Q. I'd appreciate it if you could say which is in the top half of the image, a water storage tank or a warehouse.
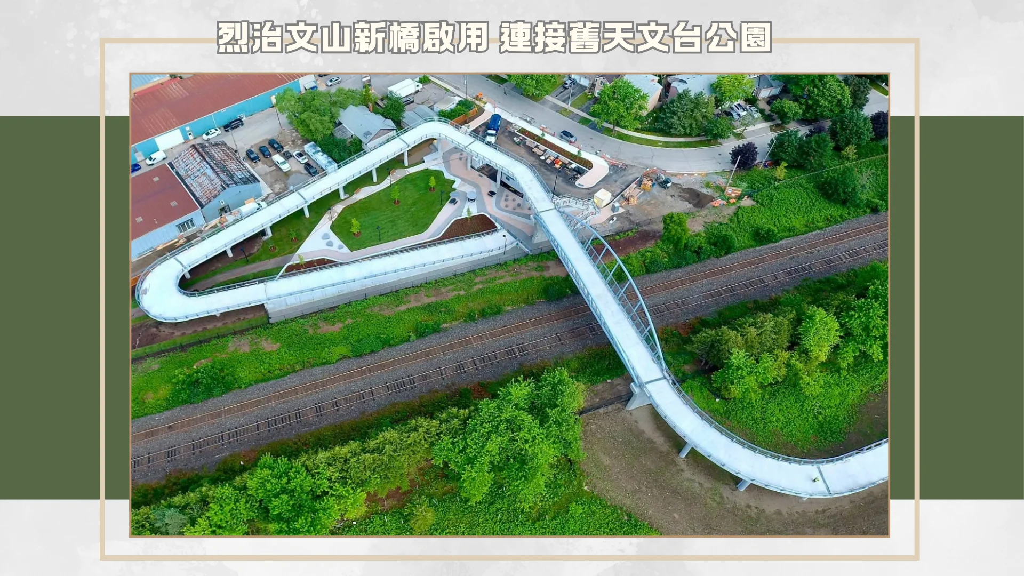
warehouse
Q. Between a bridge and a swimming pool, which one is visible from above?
bridge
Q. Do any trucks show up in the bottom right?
No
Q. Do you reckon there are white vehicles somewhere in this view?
Yes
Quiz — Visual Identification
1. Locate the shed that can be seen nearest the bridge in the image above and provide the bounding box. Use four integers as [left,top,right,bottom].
[595,186,617,209]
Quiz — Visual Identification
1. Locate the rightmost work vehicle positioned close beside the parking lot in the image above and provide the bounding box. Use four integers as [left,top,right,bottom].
[653,164,673,186]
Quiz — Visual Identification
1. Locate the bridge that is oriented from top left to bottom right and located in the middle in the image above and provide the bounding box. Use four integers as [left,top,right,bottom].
[533,199,673,411]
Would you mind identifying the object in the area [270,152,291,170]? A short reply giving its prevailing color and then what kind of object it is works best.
white vehicle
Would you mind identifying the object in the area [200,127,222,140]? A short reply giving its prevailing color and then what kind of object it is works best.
white vehicle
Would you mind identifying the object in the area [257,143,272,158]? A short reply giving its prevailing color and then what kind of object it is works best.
blue car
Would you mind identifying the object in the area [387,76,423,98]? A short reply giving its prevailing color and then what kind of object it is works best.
white truck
